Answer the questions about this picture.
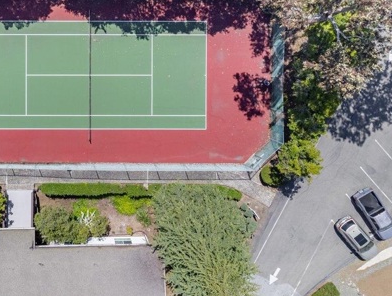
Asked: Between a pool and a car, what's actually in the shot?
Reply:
car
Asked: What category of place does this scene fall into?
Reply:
sports ground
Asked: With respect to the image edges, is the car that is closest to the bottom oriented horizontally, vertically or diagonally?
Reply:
diagonally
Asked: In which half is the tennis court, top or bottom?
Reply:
top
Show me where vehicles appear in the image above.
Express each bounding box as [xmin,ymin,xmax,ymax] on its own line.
[350,183,392,240]
[336,213,376,259]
